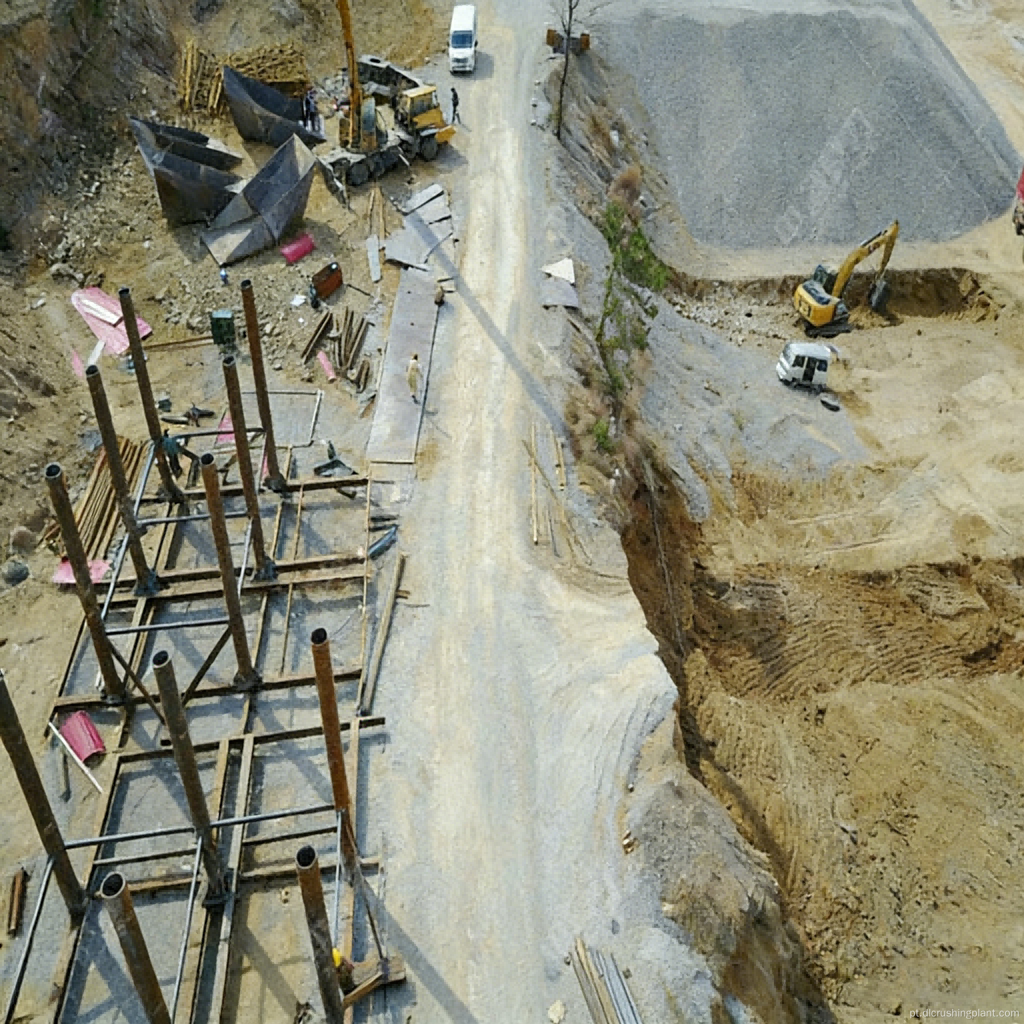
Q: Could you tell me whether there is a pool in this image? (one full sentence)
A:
No, the scene contains no pool.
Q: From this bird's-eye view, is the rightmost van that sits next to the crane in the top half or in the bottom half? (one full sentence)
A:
The top half of the photo is where the rightmost van that sits next to the crane is.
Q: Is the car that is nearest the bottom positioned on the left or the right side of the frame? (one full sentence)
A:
The car that is nearest the bottom appears in the right half of the scene.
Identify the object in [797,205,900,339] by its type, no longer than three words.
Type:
work vehicle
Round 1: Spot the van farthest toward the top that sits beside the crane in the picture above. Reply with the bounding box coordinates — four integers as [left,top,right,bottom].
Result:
[446,0,478,68]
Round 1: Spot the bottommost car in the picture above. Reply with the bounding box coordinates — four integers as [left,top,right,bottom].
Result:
[771,331,844,389]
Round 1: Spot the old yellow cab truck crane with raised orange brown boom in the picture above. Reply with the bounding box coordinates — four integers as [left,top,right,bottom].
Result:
[305,0,457,205]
